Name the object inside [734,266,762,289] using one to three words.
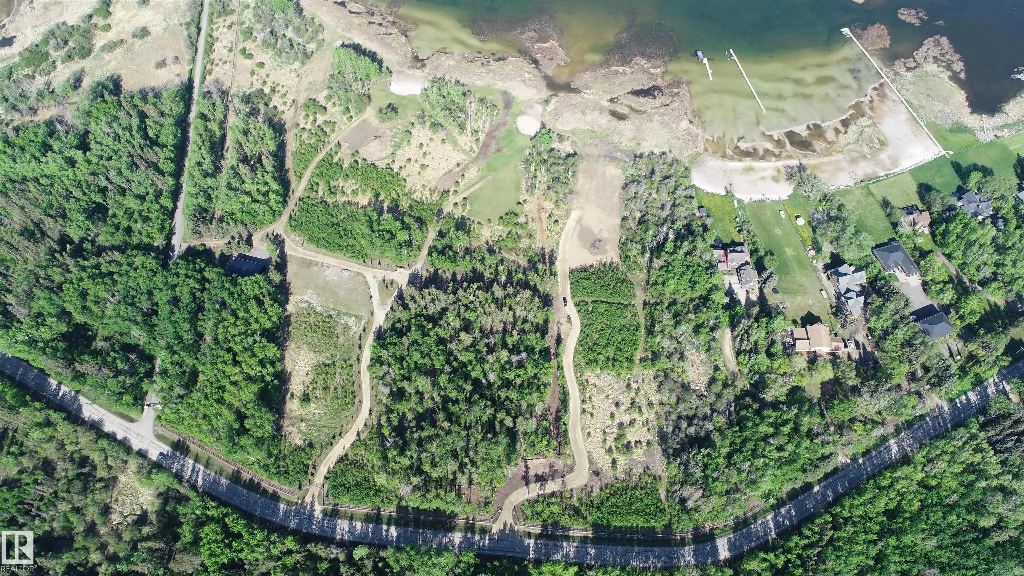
building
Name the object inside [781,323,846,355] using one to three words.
house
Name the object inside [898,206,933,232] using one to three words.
house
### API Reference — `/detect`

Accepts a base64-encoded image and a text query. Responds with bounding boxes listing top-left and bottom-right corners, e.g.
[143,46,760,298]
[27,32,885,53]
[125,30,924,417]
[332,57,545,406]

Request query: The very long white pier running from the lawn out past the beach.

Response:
[840,30,949,158]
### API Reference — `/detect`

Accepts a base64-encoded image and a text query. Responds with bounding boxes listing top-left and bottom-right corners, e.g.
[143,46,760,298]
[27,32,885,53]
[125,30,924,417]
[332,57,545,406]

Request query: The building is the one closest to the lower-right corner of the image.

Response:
[914,310,957,345]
